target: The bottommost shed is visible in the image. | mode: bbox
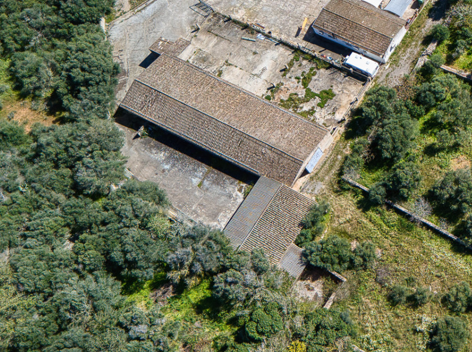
[218,175,316,279]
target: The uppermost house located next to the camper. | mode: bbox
[312,0,407,63]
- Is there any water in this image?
No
